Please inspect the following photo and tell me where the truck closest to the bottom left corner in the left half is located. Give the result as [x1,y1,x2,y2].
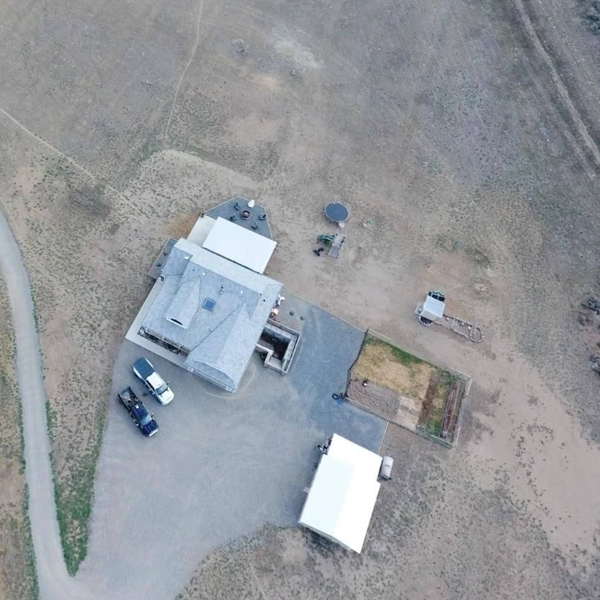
[113,389,159,442]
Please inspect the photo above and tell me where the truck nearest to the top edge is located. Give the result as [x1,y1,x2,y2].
[128,359,176,410]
